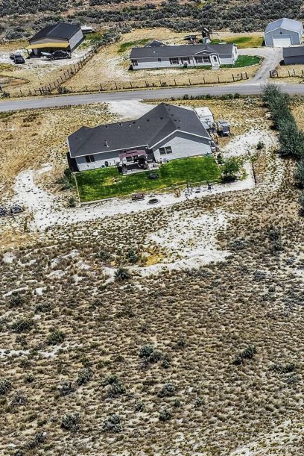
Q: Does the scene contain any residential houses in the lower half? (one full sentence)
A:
No, no residential house is visible in the lower half.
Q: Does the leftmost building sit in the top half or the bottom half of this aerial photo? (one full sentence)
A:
You can find the leftmost building in the top half.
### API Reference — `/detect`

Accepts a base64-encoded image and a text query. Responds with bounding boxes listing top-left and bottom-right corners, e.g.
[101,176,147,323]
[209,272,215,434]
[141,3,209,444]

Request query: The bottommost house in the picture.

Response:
[64,103,214,170]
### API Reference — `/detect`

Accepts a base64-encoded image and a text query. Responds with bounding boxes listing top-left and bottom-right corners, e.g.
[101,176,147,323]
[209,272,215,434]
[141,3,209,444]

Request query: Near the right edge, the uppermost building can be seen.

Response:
[263,15,304,47]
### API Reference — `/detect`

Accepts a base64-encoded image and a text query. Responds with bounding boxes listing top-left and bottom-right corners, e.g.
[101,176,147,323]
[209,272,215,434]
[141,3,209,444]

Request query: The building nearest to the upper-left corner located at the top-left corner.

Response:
[24,23,84,61]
